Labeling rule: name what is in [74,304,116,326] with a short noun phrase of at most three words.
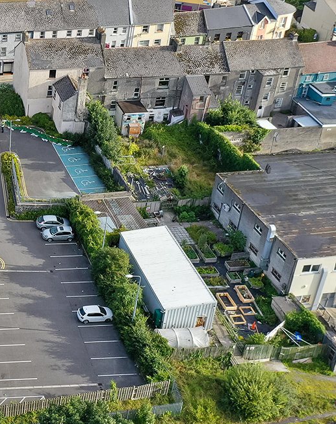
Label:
car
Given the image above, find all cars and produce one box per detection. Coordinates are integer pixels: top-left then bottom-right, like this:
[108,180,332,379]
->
[32,214,73,231]
[74,304,116,326]
[39,225,76,243]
